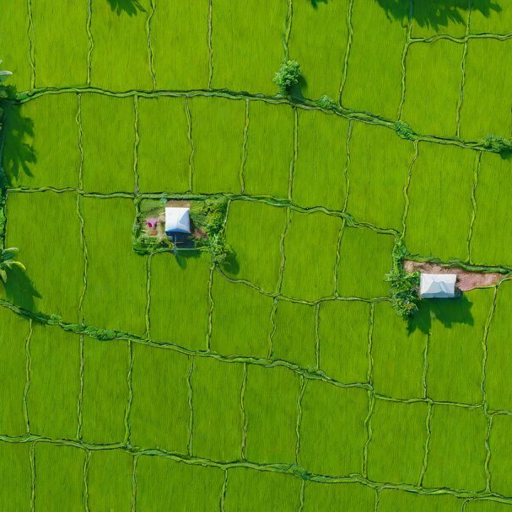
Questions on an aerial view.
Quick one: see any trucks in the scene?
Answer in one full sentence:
No, the frame has no truck in it.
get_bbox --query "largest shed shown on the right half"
[417,274,456,300]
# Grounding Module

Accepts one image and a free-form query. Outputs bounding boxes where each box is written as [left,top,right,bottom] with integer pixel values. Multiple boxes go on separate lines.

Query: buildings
[165,208,191,236]
[417,274,456,300]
